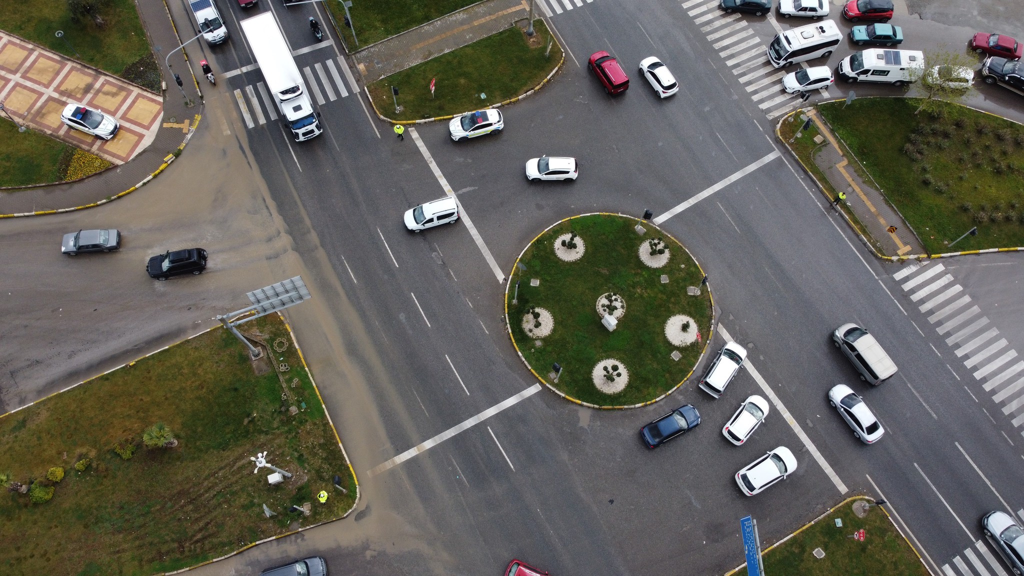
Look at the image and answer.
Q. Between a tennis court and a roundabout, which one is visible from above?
roundabout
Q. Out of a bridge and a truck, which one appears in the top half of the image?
truck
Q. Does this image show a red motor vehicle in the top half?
Yes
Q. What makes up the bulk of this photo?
paved ground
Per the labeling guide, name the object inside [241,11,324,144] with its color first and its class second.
white truck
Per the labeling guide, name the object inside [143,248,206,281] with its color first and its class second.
black car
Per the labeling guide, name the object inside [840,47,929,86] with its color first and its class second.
white van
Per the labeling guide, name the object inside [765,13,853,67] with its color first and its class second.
white vehicle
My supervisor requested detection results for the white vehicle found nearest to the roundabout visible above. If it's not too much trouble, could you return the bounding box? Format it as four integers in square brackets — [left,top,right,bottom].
[698,340,748,400]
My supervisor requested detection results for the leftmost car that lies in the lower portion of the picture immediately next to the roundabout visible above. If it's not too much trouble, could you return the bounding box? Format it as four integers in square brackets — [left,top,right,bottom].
[639,405,702,450]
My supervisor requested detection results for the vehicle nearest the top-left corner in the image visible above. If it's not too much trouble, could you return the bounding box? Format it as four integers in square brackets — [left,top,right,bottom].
[55,101,119,141]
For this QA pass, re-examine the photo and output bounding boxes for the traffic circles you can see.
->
[503,212,714,410]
